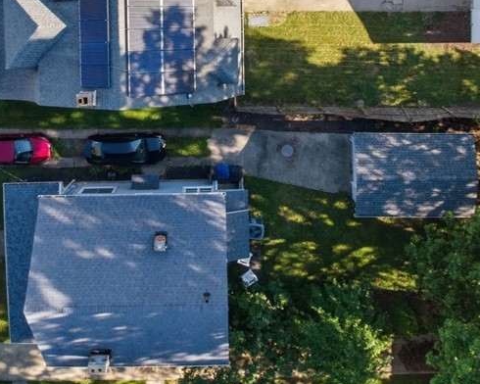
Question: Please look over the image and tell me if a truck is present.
No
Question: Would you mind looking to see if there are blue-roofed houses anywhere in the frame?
Yes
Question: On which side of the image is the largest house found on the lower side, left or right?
left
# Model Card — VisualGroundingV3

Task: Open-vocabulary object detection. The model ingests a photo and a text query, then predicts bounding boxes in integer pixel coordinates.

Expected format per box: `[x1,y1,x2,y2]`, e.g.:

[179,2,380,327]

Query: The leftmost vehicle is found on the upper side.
[0,131,54,169]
